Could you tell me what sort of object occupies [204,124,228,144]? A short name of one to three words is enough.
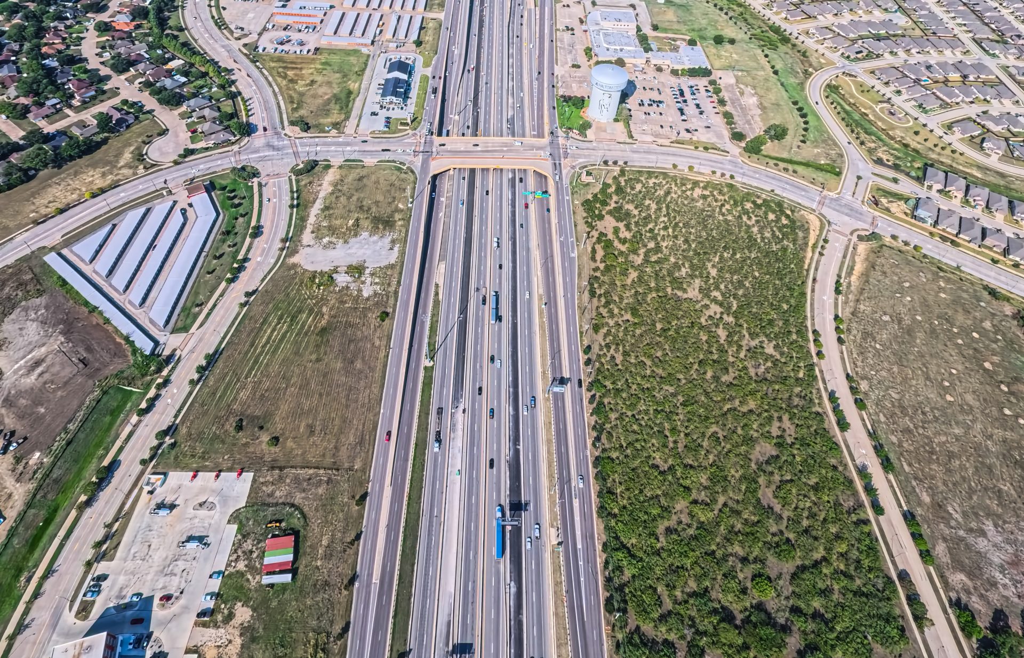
house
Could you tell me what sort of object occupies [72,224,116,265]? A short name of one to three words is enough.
building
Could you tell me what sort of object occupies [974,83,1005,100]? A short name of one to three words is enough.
house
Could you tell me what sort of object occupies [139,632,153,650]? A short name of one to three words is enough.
vehicle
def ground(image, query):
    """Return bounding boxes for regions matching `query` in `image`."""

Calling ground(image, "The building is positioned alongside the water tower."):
[581,9,710,73]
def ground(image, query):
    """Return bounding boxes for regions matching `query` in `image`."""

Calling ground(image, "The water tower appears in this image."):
[588,66,629,123]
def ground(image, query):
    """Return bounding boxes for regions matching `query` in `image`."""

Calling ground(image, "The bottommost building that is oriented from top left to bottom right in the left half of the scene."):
[44,252,155,357]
